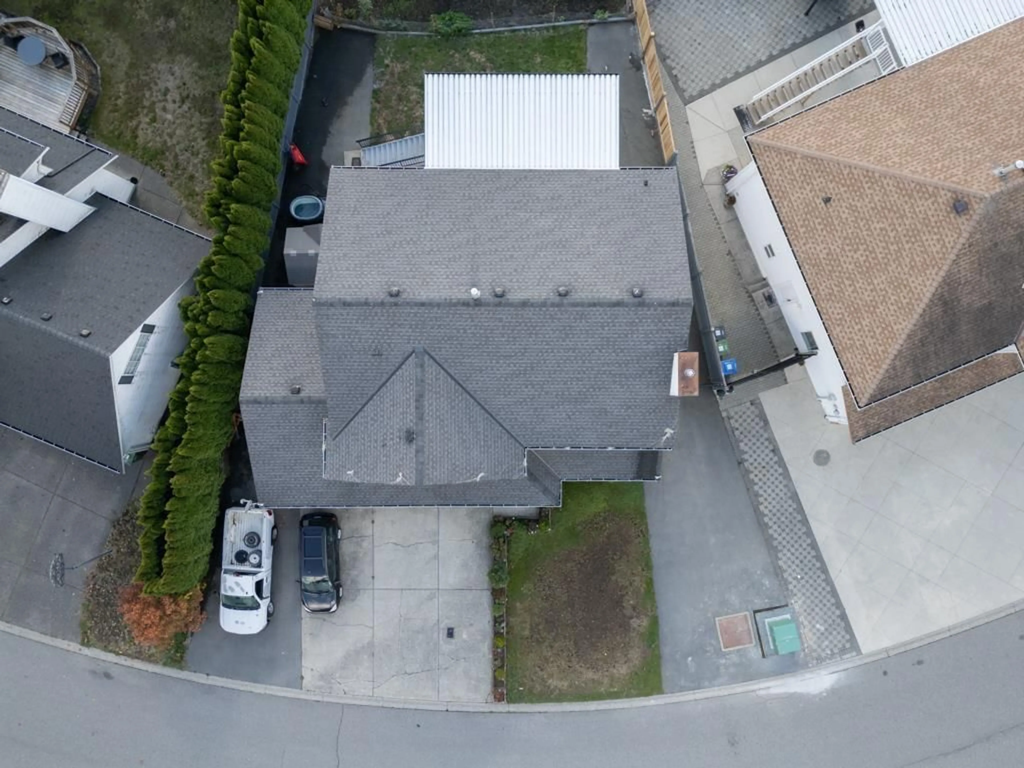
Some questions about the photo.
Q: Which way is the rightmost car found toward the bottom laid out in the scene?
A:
up and down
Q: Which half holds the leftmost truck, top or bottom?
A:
bottom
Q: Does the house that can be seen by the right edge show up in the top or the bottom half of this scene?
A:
top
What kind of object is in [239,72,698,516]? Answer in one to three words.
house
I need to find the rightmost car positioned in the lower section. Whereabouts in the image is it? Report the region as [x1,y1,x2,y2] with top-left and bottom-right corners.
[293,510,345,613]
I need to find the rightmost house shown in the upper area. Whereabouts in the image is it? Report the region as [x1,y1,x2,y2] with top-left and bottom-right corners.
[727,0,1024,446]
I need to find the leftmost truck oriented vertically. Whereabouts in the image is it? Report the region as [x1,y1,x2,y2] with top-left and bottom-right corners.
[219,500,279,635]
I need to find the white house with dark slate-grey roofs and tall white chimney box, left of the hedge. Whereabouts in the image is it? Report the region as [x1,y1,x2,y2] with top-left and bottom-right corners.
[0,103,217,475]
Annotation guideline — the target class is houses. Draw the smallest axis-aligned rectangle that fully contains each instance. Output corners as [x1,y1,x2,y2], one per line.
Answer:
[727,0,1024,446]
[0,103,217,475]
[239,72,698,516]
